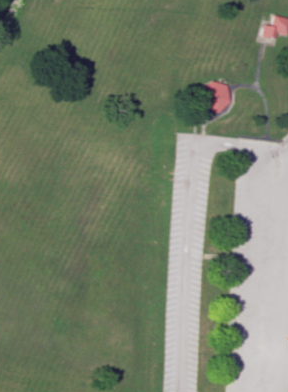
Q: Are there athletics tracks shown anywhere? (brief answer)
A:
No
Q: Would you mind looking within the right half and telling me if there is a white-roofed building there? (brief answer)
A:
No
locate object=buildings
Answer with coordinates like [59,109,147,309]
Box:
[203,80,232,114]
[260,14,288,38]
